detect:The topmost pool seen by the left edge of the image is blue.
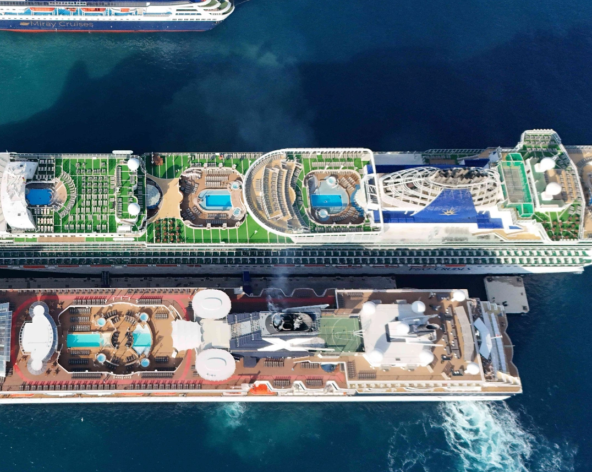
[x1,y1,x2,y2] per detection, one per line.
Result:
[26,185,54,208]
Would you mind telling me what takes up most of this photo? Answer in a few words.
water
